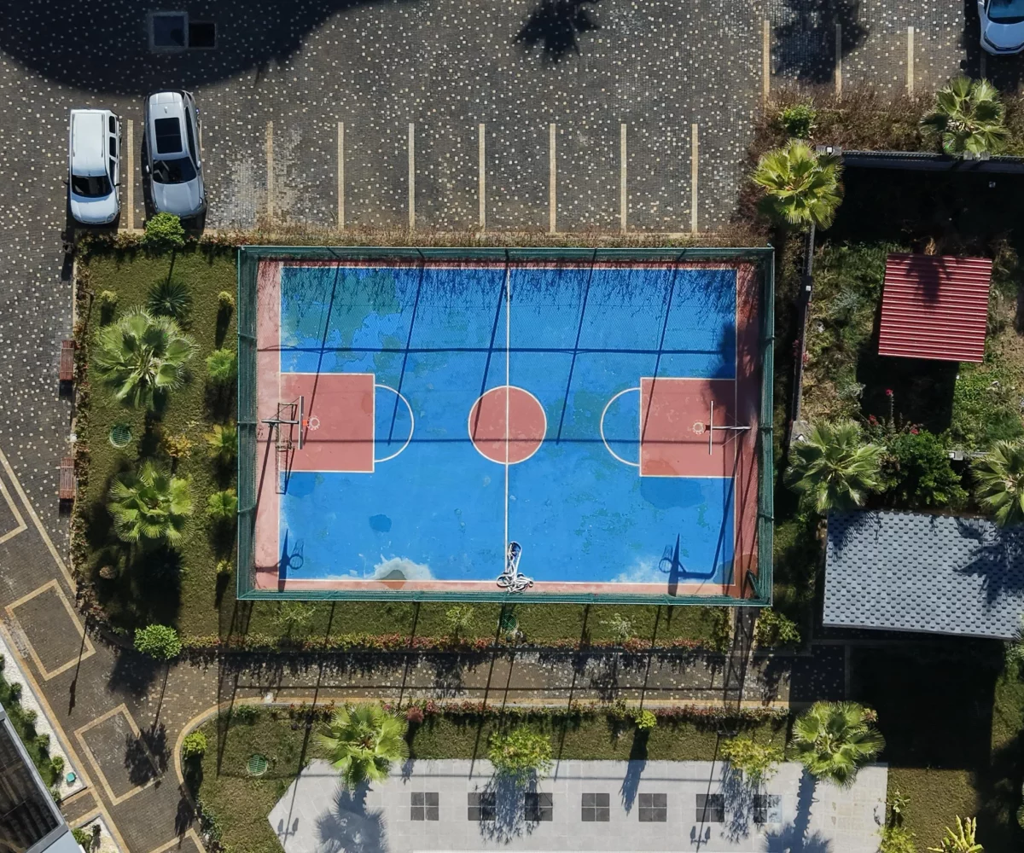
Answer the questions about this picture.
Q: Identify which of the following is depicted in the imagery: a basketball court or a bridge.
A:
basketball court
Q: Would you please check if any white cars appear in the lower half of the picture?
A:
No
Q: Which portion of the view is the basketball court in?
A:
center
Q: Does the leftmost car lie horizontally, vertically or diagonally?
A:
vertically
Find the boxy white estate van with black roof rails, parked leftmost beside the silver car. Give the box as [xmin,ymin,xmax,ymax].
[63,109,123,226]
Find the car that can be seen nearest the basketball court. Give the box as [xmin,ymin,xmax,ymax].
[145,92,207,219]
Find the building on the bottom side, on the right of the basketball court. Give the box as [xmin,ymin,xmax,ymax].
[819,509,1024,640]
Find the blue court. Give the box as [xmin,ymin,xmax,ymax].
[256,258,761,598]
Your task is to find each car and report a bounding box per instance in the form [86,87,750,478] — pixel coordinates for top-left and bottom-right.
[976,0,1024,55]
[145,92,207,219]
[63,109,123,226]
